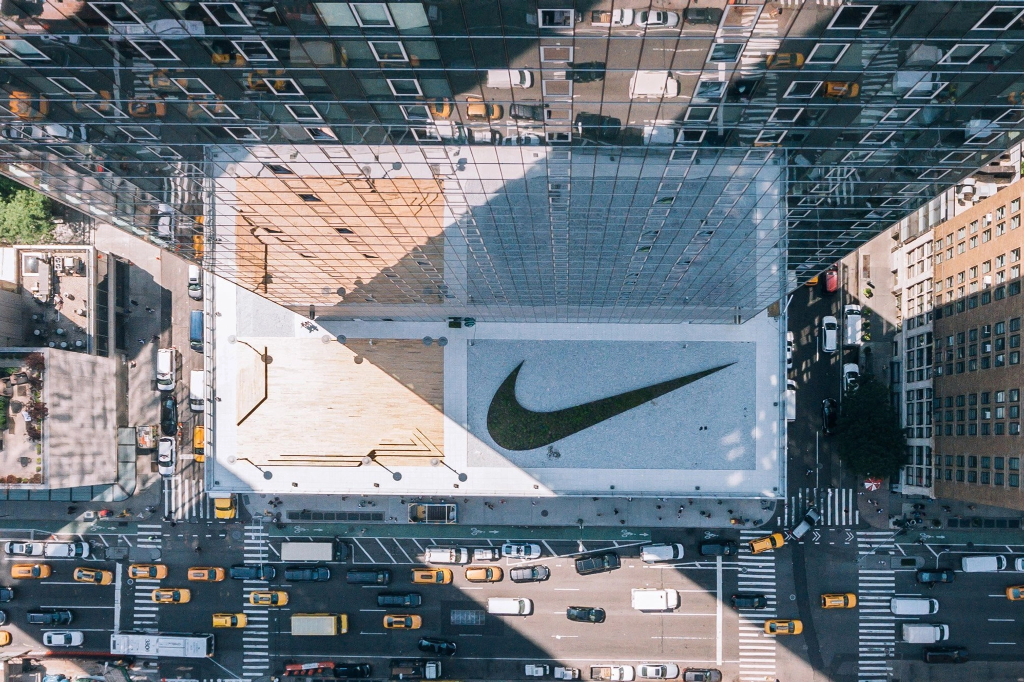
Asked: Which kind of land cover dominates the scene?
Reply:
buildings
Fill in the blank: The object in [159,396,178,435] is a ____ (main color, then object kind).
black car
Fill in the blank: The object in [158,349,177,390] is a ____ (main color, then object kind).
white vehicle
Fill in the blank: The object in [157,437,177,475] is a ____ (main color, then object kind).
white car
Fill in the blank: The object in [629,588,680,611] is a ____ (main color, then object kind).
white truck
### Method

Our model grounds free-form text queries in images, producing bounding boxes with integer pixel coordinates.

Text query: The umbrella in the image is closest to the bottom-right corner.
[863,474,881,492]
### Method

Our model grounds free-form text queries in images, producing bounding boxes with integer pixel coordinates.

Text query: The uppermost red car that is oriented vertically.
[823,263,840,296]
